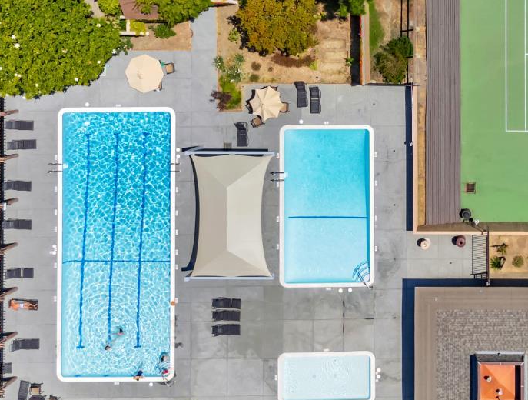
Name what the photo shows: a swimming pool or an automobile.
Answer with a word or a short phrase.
swimming pool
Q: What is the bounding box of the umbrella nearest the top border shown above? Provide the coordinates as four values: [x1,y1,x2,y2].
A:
[127,55,164,91]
